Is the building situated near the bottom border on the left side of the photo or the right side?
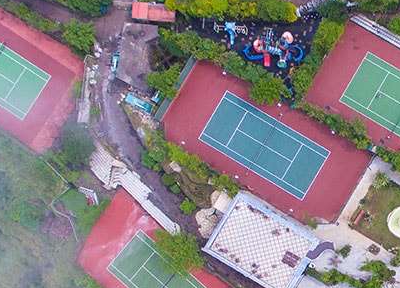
right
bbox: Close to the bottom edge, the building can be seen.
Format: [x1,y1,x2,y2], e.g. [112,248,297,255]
[201,189,335,288]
